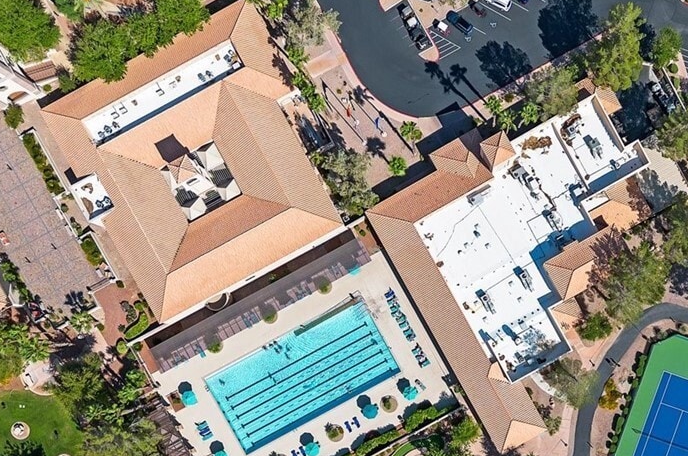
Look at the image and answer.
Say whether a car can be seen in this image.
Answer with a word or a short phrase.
Yes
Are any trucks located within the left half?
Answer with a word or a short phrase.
No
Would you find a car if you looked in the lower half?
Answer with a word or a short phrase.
No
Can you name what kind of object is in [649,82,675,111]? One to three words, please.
truck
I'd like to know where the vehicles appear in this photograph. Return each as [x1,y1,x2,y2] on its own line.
[409,25,424,41]
[399,1,414,17]
[486,0,513,13]
[447,11,473,36]
[415,38,430,54]
[404,14,419,30]
[470,0,484,18]
[649,82,675,111]
[519,0,534,6]
[437,20,451,38]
